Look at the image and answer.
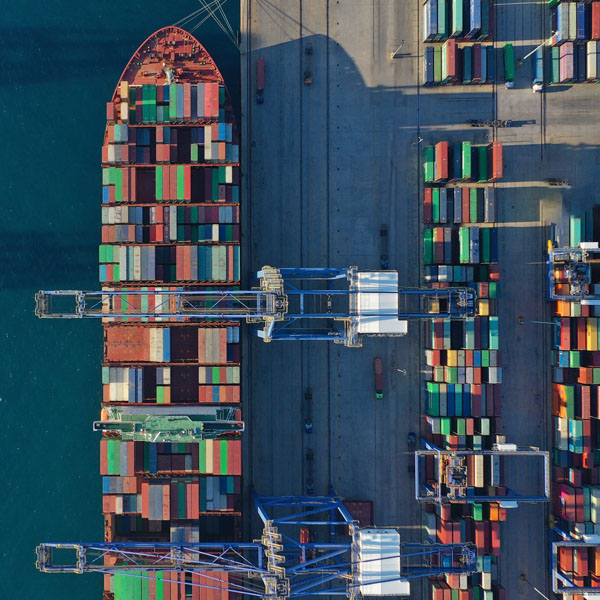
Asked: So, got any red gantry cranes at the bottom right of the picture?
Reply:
No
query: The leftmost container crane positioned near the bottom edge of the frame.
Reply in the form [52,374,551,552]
[36,478,478,600]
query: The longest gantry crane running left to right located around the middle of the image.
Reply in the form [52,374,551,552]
[34,265,475,348]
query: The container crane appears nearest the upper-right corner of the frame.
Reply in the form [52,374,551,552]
[544,243,600,308]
